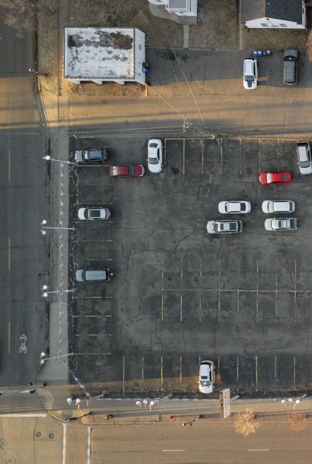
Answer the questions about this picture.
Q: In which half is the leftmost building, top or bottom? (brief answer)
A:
top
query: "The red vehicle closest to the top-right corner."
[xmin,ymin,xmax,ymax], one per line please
[260,170,292,185]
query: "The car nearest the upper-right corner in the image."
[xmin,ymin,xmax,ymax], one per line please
[282,51,299,84]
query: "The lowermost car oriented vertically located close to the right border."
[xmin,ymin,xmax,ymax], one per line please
[297,142,312,174]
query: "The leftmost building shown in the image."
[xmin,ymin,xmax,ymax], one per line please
[64,27,145,83]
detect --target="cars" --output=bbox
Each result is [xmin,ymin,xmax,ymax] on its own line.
[209,219,245,235]
[198,360,216,391]
[266,217,298,231]
[242,58,259,90]
[282,51,299,84]
[264,199,296,214]
[80,206,112,221]
[77,148,110,164]
[260,170,292,185]
[297,142,312,174]
[149,140,164,173]
[111,163,147,179]
[78,267,113,283]
[220,200,252,215]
